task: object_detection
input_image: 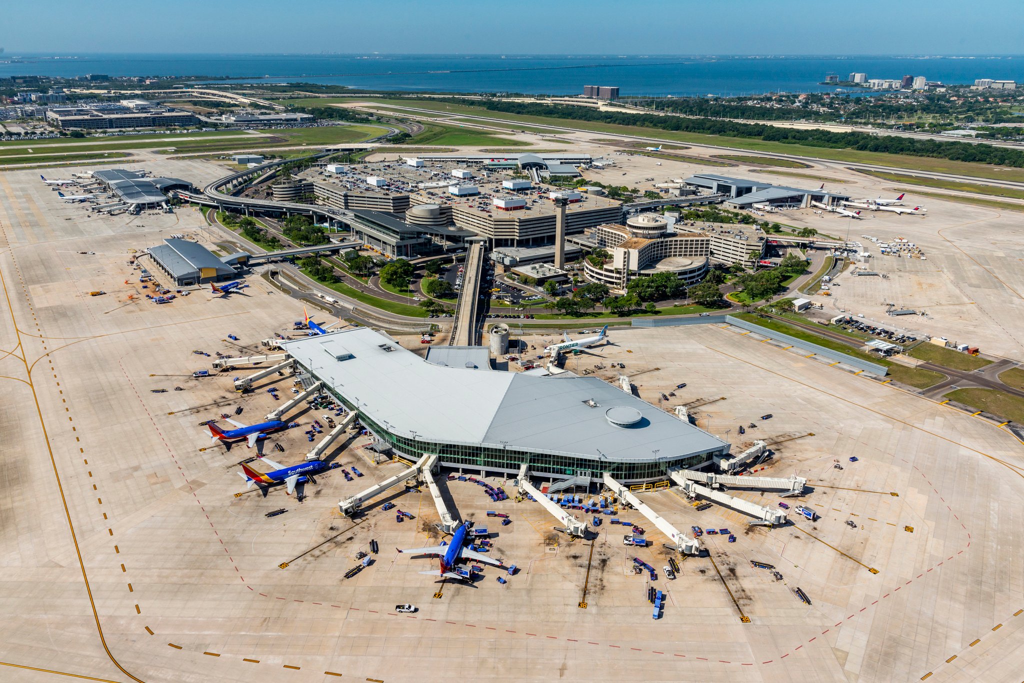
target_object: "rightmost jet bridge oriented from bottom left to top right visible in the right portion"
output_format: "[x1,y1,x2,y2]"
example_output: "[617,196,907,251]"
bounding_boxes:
[713,438,767,474]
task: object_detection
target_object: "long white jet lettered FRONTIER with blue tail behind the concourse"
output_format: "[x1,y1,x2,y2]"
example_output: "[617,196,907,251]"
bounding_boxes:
[545,325,613,354]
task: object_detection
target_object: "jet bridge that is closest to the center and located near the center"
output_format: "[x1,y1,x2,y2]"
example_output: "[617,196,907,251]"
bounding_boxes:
[544,345,563,375]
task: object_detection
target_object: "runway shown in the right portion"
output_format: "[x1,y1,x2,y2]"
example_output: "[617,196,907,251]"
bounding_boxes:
[341,102,1024,188]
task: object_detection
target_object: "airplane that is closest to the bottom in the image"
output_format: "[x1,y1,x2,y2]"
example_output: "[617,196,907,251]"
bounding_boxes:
[397,523,501,578]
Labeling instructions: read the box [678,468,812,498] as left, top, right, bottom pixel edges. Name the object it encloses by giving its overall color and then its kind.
white jet bridge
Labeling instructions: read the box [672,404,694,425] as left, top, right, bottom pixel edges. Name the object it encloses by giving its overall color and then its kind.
white jet bridge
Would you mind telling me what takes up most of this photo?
paved ground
